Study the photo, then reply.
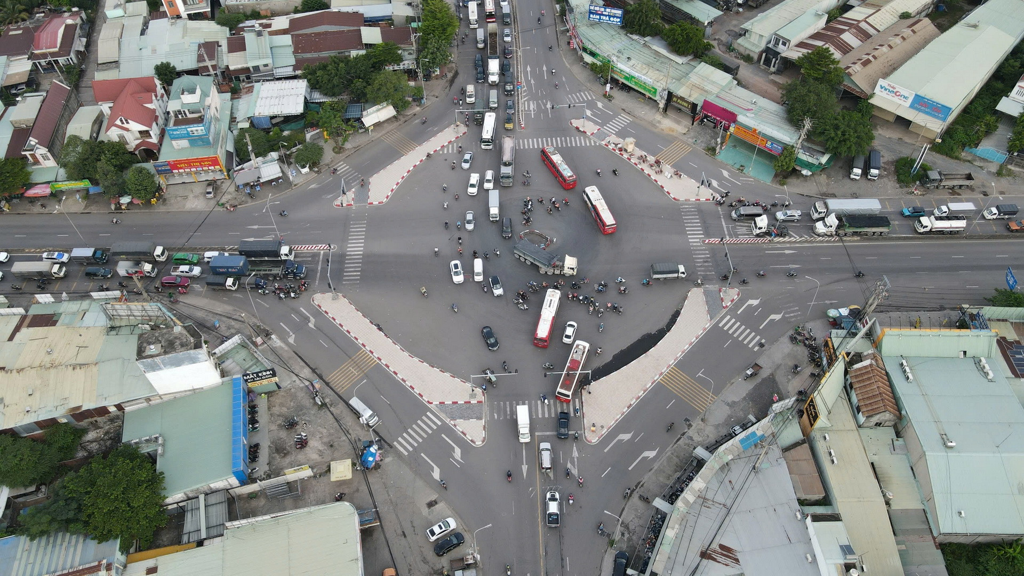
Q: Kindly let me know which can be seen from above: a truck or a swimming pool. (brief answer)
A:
truck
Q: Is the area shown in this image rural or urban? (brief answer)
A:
urban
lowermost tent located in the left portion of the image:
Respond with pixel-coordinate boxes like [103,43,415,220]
[327,459,356,483]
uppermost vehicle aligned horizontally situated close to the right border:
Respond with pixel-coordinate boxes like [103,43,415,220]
[921,170,979,190]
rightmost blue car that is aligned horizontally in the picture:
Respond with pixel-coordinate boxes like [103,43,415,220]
[899,206,926,218]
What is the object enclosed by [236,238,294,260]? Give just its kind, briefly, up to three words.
truck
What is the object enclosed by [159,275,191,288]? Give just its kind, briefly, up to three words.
vehicle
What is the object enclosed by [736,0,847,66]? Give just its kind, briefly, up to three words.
house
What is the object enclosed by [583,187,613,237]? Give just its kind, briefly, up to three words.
bus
